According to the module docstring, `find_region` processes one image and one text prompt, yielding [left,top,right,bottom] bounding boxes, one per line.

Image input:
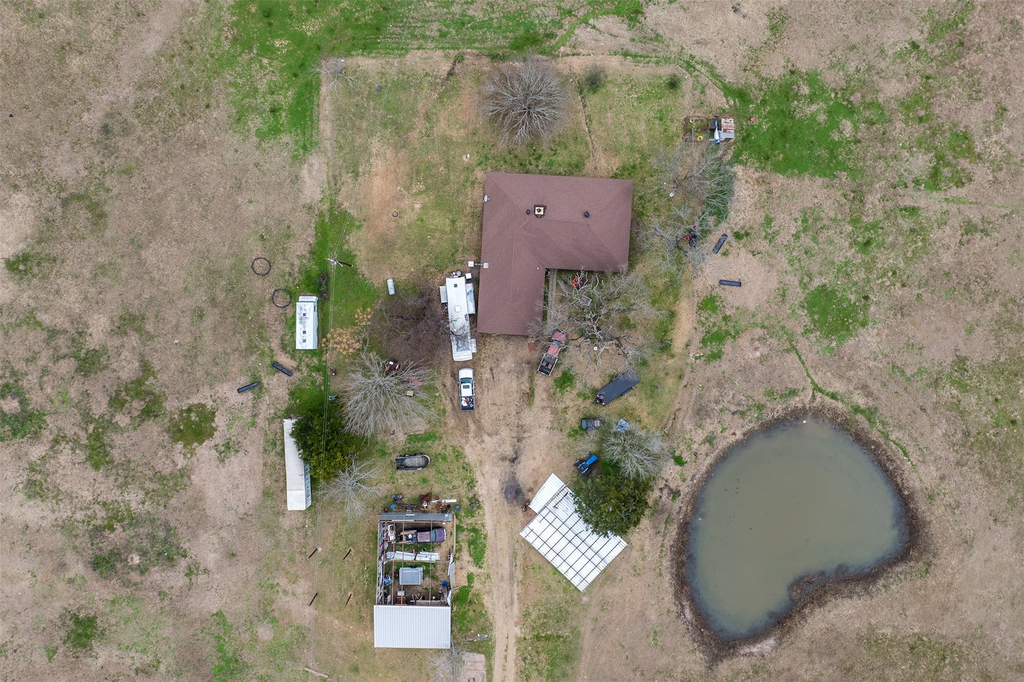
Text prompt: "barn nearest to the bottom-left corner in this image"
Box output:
[374,511,460,649]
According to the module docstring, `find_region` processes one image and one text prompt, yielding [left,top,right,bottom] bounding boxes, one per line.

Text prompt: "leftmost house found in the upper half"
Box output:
[474,172,633,336]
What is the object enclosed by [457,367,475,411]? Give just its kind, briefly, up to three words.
vehicle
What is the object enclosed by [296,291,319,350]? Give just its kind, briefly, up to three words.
trailer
